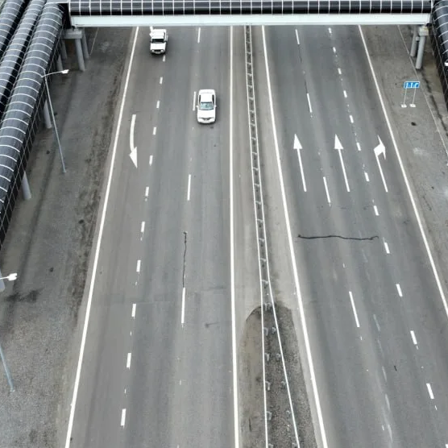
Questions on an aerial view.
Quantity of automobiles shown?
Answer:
2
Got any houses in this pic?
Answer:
No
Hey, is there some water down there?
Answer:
No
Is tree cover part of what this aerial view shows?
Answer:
No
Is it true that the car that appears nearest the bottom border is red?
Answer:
No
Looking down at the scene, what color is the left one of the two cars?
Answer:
white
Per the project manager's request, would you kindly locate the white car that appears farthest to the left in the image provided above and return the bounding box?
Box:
[148,28,168,55]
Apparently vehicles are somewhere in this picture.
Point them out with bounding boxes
[195,89,217,123]
[148,28,168,55]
